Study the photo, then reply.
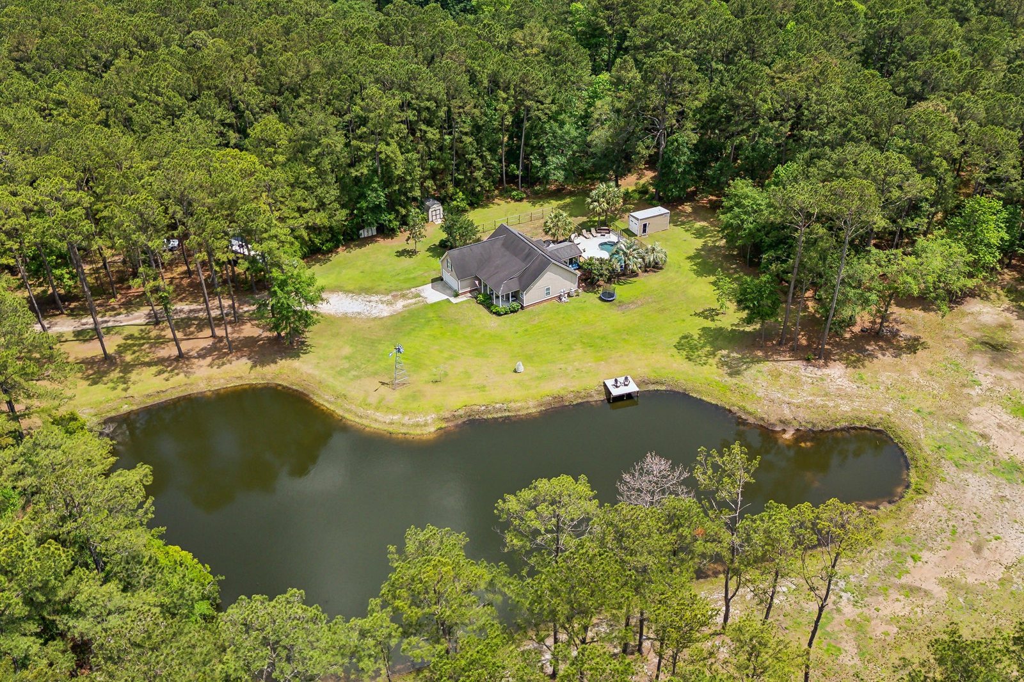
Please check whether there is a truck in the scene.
No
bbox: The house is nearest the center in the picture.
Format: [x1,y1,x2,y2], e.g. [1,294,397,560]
[438,225,585,309]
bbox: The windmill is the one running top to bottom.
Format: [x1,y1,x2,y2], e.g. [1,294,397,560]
[386,344,407,388]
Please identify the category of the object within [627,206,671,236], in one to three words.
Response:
shed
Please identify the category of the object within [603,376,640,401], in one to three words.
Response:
pier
